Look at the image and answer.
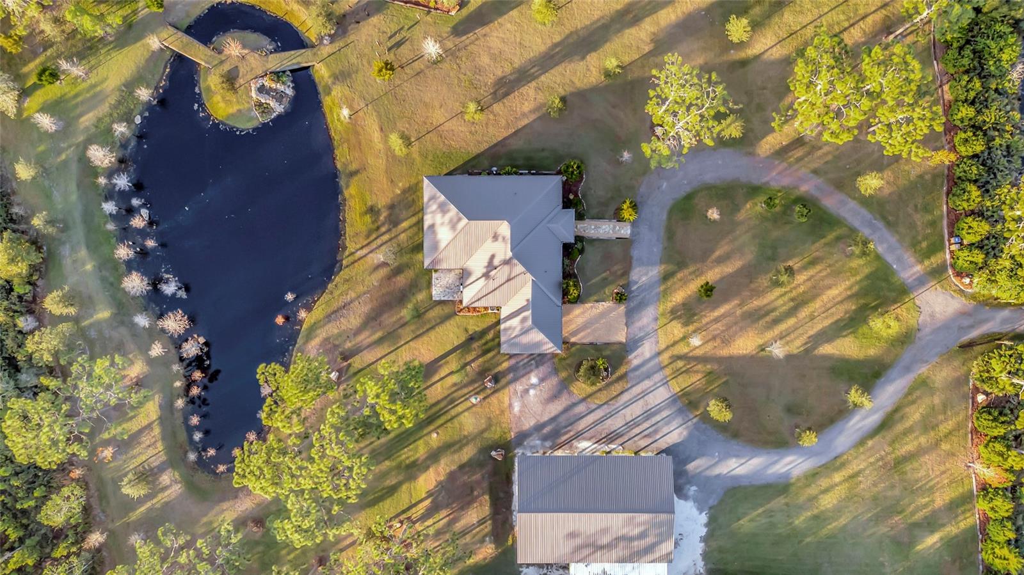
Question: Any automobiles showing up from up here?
No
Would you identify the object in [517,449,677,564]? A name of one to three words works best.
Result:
barn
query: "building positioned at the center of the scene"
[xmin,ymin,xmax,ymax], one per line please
[423,174,575,353]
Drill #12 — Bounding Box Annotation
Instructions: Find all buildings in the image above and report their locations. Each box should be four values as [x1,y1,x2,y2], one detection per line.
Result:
[517,449,677,564]
[423,174,575,353]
